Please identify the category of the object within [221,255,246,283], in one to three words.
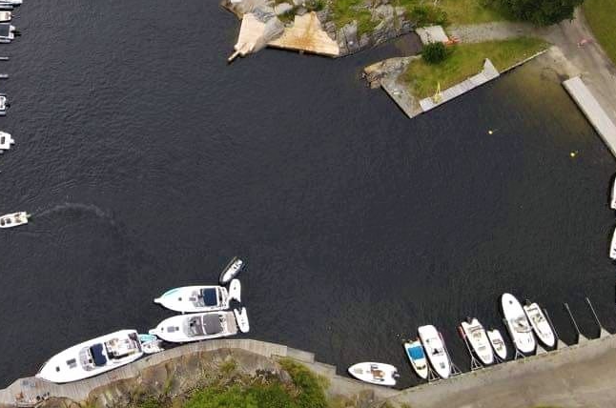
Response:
boat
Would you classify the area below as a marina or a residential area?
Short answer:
marina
